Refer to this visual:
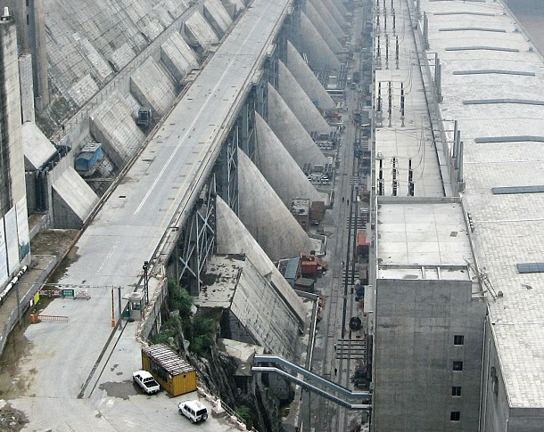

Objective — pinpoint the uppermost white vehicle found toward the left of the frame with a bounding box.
[125,367,158,390]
